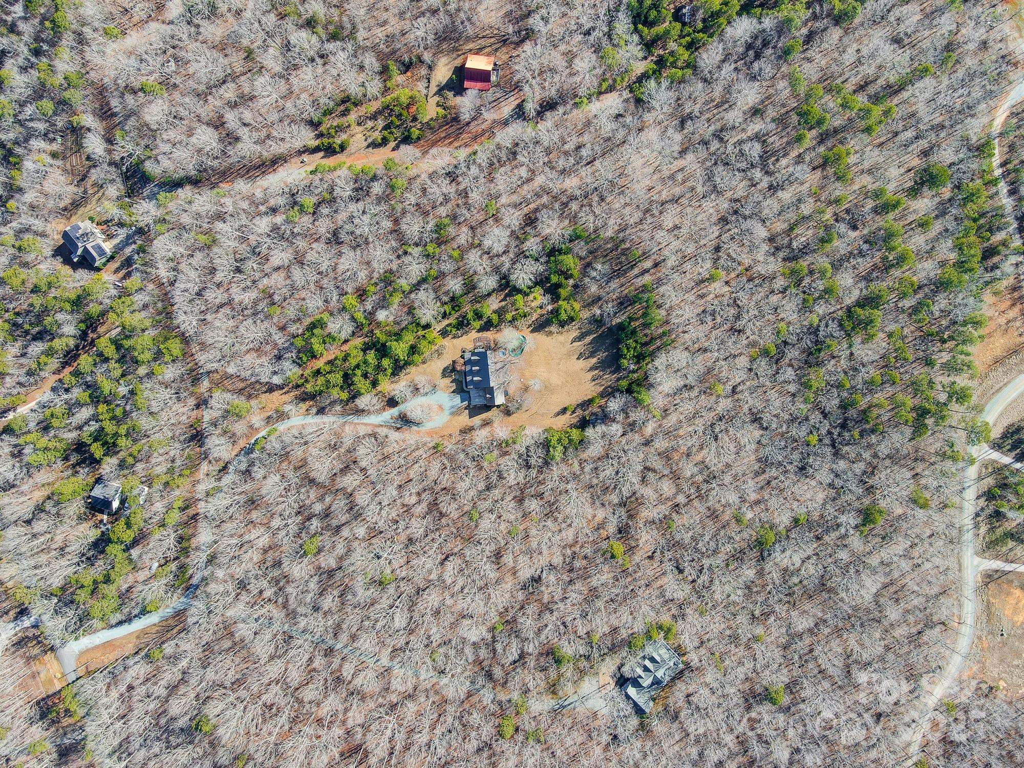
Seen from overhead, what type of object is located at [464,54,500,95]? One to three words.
barn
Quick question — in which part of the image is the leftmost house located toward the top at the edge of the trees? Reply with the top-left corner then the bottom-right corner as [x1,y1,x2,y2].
[63,222,116,267]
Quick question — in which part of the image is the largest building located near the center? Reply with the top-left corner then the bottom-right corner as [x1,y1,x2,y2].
[462,349,509,405]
